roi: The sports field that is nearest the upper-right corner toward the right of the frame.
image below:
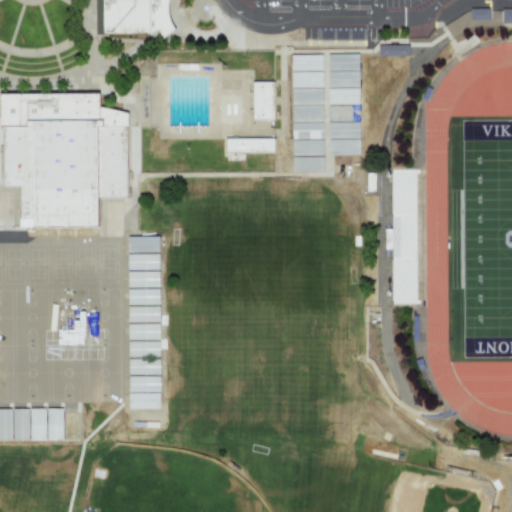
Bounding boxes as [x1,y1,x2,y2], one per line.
[449,118,512,362]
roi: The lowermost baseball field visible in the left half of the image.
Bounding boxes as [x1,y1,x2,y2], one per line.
[87,443,272,512]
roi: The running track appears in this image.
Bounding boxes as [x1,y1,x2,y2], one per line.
[427,42,512,436]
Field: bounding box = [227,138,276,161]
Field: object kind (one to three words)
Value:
building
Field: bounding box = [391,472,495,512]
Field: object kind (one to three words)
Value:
baseball field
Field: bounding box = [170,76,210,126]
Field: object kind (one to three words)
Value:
swimming pool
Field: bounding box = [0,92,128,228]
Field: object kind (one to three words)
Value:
building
